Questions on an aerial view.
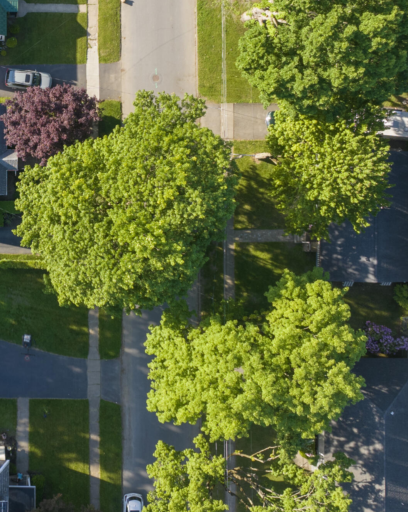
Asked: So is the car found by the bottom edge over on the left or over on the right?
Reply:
left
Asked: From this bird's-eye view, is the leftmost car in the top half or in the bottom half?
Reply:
top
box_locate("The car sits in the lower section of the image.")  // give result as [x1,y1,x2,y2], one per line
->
[123,491,144,512]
